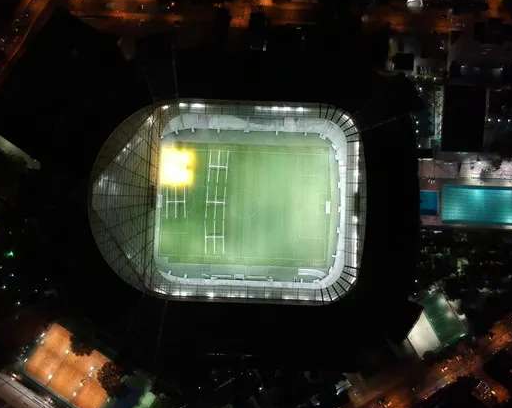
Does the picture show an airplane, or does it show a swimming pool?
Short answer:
swimming pool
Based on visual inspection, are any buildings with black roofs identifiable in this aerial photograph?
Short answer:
Yes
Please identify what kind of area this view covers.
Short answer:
sports ground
